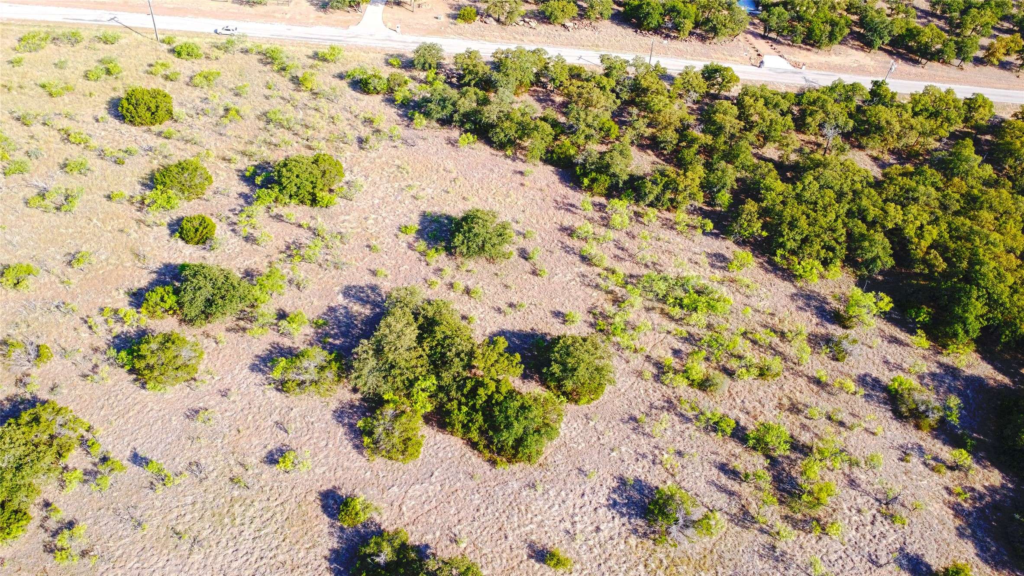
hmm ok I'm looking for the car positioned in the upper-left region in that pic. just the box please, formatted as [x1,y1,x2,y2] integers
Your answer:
[214,23,240,35]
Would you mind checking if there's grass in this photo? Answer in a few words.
Yes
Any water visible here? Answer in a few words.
No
